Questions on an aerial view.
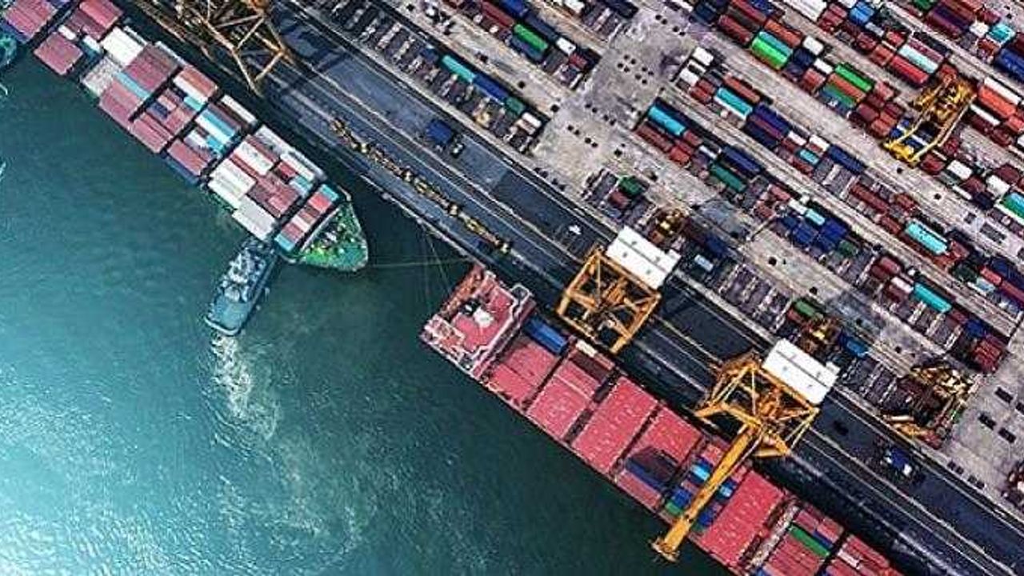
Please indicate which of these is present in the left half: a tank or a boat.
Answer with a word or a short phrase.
boat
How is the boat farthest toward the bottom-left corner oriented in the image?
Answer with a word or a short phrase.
on a diagonal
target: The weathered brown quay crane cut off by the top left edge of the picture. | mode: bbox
[134,0,243,56]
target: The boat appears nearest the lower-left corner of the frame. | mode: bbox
[203,249,283,342]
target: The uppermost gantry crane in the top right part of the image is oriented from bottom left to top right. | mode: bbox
[874,74,972,174]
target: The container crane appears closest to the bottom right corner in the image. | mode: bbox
[881,358,985,445]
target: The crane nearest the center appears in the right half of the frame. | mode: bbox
[554,205,684,357]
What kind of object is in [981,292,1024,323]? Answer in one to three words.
shipping container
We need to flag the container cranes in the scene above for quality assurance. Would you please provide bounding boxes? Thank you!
[554,205,684,357]
[881,358,985,445]
[874,74,972,174]
[649,311,840,567]
[134,0,243,56]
